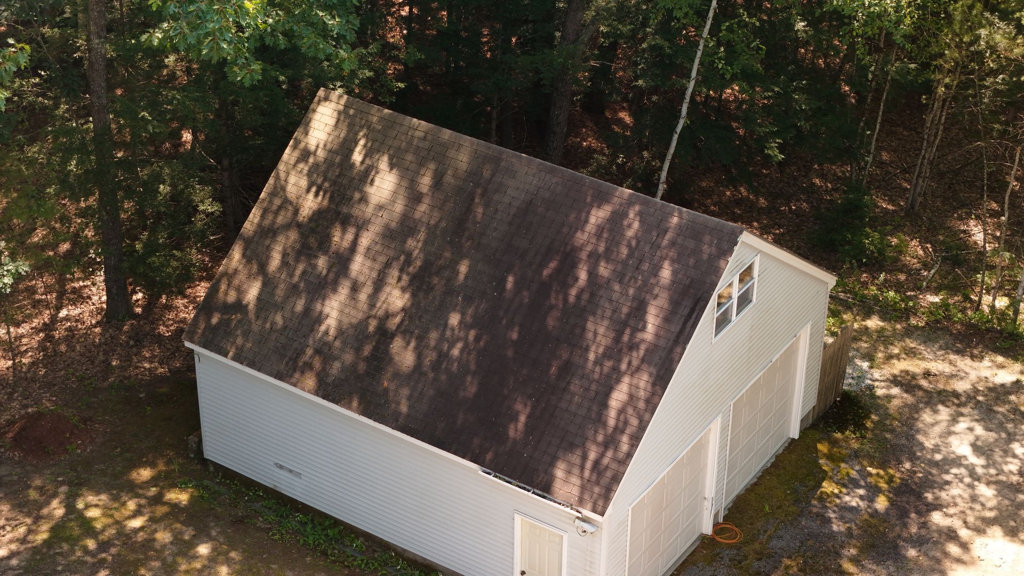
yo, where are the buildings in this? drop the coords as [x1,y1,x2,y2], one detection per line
[181,86,838,576]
